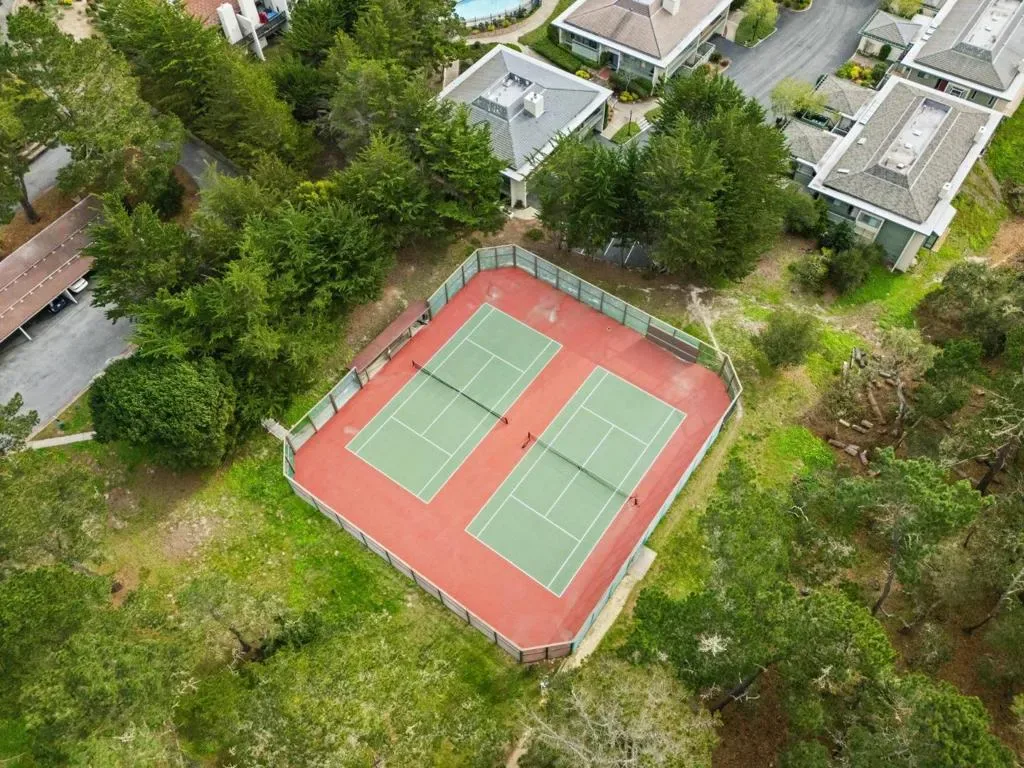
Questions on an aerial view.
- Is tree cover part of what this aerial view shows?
Yes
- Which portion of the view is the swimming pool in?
top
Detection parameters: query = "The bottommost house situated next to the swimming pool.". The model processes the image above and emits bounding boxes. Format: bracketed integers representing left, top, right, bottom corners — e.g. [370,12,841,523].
[435,45,615,210]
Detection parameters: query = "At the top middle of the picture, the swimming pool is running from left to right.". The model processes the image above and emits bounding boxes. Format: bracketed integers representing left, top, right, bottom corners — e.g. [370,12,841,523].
[435,0,530,28]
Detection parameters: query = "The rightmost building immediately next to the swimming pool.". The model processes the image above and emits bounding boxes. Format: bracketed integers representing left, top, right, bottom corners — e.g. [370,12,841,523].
[549,0,735,89]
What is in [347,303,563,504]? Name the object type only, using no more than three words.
tennis court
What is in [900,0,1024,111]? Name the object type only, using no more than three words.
house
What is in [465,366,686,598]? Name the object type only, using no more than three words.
tennis court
